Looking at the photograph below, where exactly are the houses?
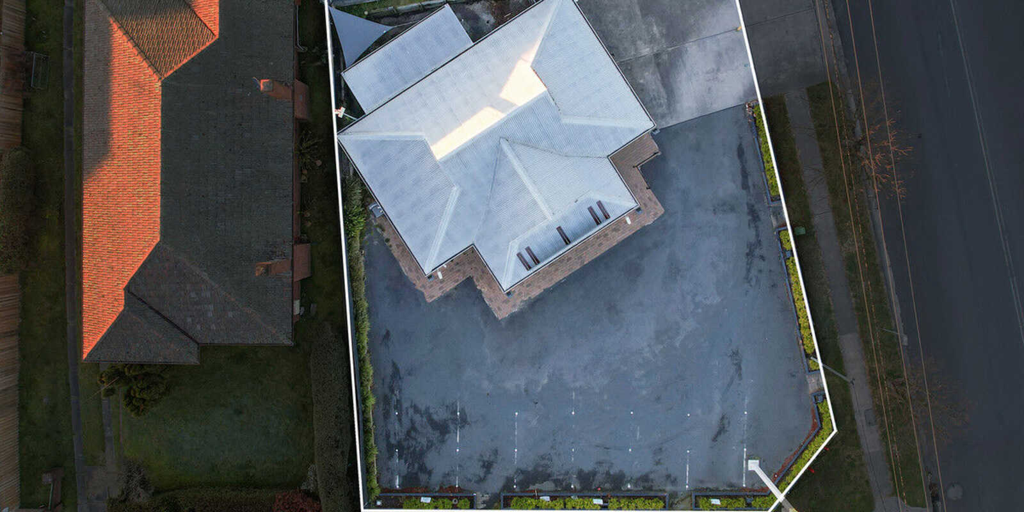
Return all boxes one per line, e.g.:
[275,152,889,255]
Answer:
[333,0,659,294]
[81,0,310,364]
